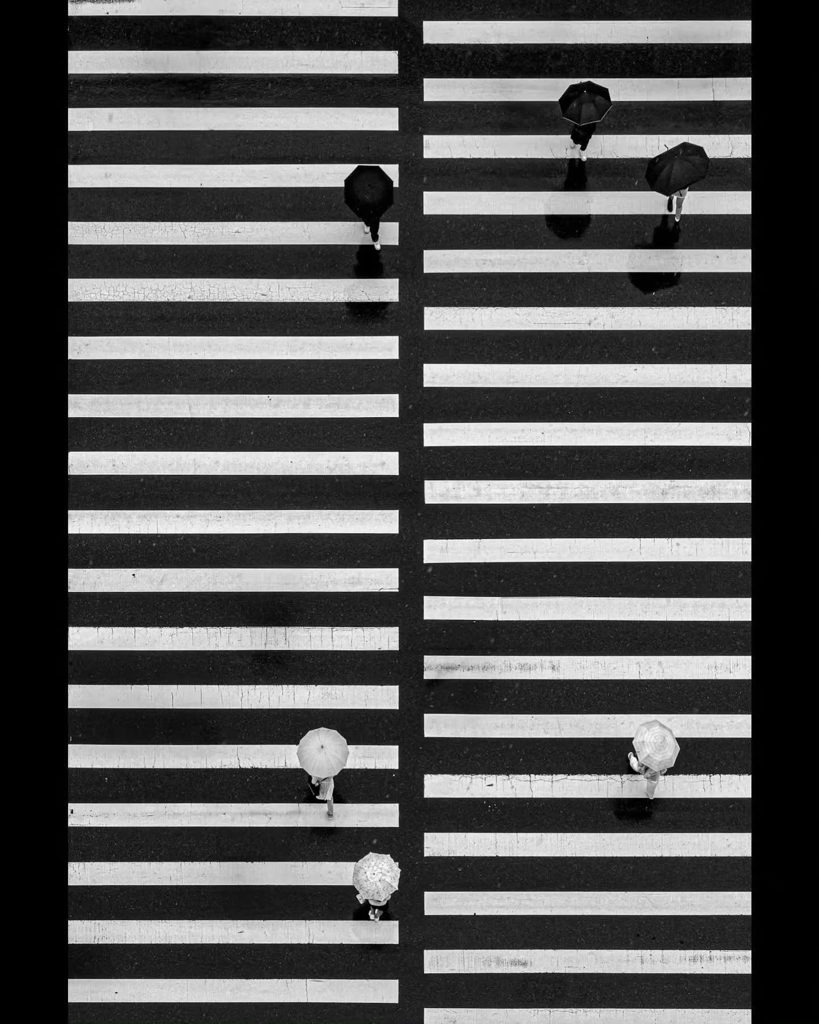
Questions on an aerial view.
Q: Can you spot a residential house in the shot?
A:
No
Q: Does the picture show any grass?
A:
No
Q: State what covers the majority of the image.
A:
paved ground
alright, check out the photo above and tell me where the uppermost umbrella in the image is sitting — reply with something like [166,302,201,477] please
[559,81,613,128]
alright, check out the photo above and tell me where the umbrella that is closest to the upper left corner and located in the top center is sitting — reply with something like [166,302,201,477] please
[344,166,394,218]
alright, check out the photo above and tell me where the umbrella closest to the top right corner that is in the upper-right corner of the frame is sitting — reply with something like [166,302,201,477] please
[644,141,709,197]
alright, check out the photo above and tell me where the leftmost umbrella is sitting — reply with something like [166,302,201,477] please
[297,728,350,778]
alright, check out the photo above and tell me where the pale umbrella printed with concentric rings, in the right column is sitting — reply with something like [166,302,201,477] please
[632,719,680,771]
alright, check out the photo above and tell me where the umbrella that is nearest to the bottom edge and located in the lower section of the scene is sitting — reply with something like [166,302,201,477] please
[353,852,401,901]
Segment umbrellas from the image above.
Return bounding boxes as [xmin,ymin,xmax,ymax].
[297,728,350,778]
[559,81,613,128]
[632,719,680,771]
[344,166,394,218]
[353,852,401,901]
[644,141,709,197]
